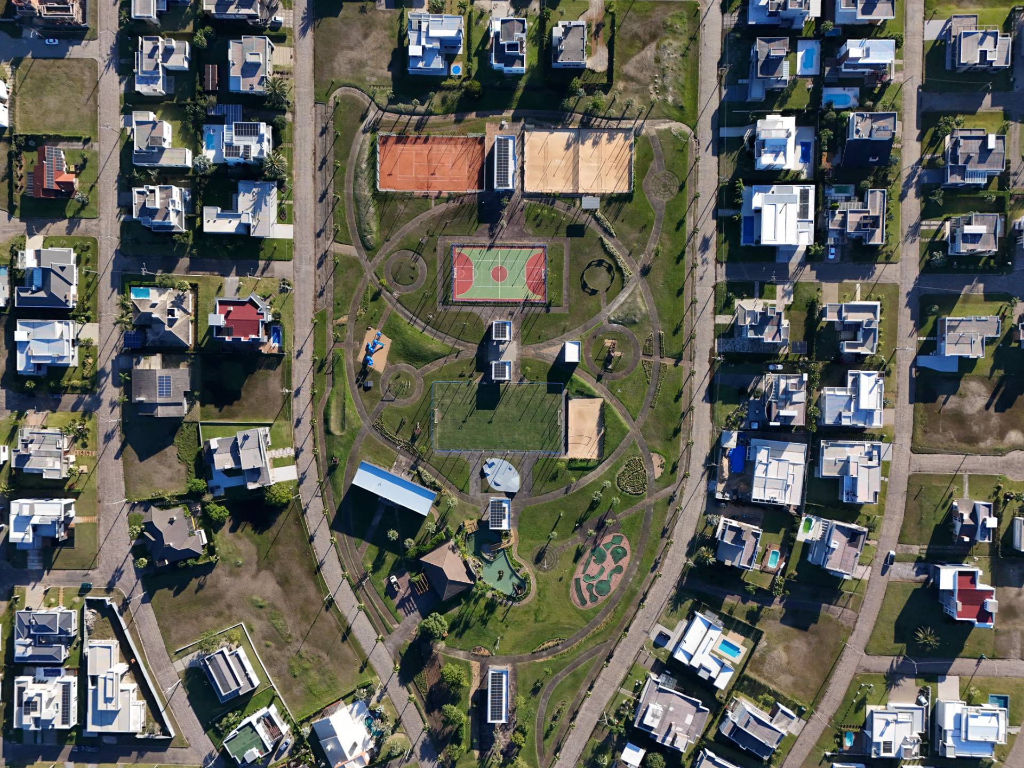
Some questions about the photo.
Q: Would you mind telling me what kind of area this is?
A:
residential area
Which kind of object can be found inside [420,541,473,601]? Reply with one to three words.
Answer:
gazebo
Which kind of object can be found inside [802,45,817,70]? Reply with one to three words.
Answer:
swimming pool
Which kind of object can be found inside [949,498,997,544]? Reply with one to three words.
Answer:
house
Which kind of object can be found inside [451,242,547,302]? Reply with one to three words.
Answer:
sports court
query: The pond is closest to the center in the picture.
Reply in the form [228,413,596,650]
[464,520,526,597]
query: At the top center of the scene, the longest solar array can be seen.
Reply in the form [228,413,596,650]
[497,138,509,188]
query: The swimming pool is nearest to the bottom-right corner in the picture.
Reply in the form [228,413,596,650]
[989,694,1009,707]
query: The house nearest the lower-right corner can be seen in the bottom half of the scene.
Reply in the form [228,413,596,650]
[936,696,1007,763]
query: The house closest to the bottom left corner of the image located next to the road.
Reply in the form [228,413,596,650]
[14,674,79,729]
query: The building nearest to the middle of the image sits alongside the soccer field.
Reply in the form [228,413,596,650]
[492,361,511,380]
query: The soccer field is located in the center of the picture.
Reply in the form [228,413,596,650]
[430,382,564,453]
